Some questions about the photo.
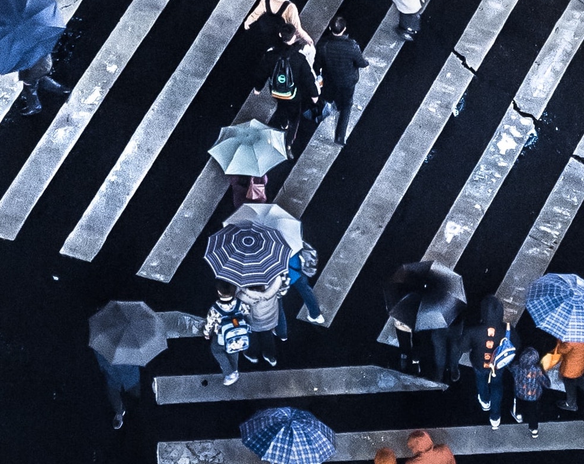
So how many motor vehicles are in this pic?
zero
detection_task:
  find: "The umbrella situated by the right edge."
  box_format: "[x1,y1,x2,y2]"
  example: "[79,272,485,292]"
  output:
[523,272,584,346]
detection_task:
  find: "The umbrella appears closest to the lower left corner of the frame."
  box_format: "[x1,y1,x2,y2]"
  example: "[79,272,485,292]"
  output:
[89,300,167,367]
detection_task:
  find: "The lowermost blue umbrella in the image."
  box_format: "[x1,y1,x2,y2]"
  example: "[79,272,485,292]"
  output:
[238,407,337,464]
